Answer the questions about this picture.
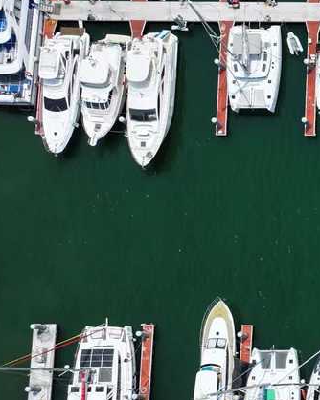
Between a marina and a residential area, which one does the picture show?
marina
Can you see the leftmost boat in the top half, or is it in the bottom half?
top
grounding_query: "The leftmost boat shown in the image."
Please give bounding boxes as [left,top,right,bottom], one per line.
[0,0,43,104]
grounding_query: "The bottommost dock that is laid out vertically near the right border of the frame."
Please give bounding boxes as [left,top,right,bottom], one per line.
[304,21,320,136]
